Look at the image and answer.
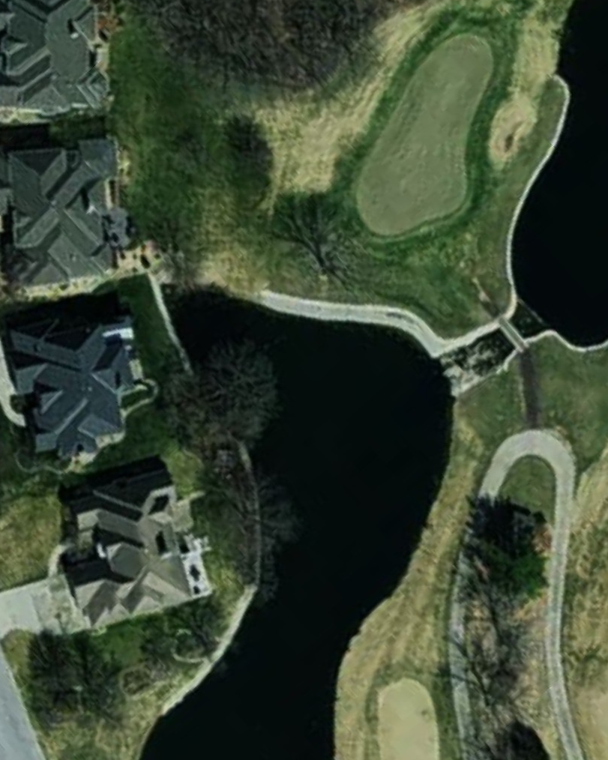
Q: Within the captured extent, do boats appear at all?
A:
No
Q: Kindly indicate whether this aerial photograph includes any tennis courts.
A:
No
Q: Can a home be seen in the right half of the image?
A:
No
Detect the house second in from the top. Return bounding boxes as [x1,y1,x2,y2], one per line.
[0,138,117,285]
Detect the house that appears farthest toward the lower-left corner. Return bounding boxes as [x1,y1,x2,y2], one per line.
[62,466,198,625]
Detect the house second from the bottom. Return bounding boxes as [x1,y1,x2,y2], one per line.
[1,311,137,461]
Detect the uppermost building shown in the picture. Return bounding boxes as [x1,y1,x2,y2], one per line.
[0,0,108,111]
